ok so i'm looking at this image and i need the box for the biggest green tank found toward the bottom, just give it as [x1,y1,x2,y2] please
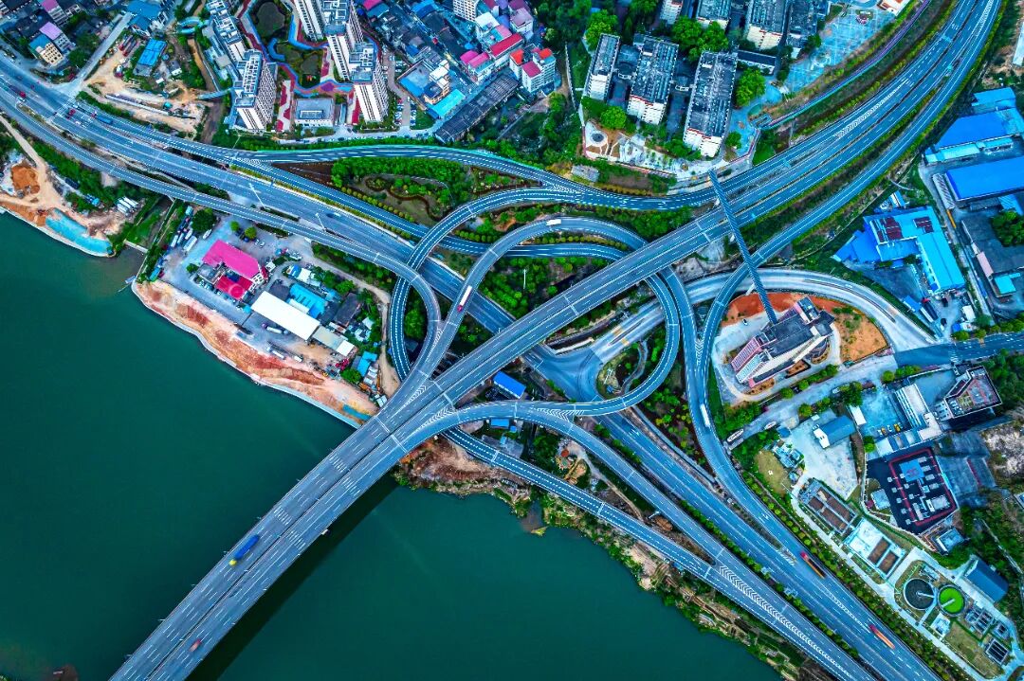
[939,586,968,614]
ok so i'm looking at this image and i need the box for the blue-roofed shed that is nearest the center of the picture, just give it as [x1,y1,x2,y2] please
[493,371,527,399]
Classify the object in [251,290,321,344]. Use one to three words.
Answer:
building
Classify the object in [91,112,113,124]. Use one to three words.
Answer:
vehicle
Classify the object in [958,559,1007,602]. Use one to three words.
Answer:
shed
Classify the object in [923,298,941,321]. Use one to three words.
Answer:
vehicle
